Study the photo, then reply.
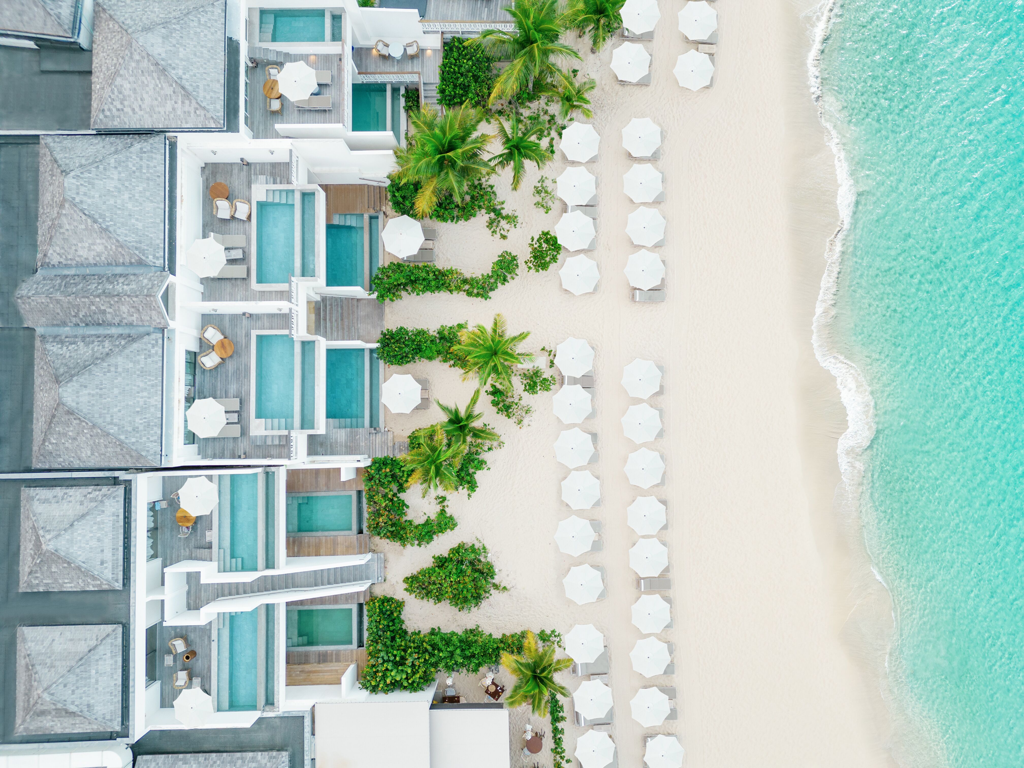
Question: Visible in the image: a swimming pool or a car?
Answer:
swimming pool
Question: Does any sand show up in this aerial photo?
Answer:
Yes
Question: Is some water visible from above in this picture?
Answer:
Yes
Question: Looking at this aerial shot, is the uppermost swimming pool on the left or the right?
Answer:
left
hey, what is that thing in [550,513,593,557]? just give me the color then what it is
white umbrella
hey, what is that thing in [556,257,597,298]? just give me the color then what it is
white umbrella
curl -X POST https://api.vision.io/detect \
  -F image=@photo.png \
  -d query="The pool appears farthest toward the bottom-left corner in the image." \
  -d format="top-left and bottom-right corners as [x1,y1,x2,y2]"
[212,591,290,713]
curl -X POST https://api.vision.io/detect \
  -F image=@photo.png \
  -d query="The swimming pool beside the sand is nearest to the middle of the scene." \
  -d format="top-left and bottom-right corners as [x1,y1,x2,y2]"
[327,346,386,432]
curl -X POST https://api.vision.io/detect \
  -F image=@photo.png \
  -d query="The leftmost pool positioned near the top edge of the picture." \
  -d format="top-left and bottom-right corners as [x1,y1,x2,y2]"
[251,7,350,54]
